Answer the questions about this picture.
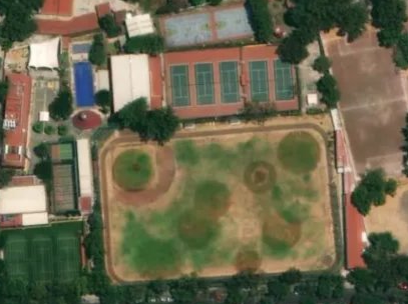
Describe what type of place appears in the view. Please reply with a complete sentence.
This image shows a sports ground.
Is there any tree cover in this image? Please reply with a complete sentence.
Yes, some tree cover is visible.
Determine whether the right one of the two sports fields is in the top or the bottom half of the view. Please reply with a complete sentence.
It is in the top half that the right one of the two sports fields appears.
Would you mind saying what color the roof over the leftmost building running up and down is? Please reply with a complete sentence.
The color of the roof on the leftmost building running up and down is red.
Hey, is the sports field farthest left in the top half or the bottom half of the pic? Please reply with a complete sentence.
Seen from above, the sports field farthest left lies in the bottom half of the view.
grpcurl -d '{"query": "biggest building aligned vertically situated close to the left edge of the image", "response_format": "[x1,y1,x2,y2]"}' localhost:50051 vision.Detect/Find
[3,74,34,172]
